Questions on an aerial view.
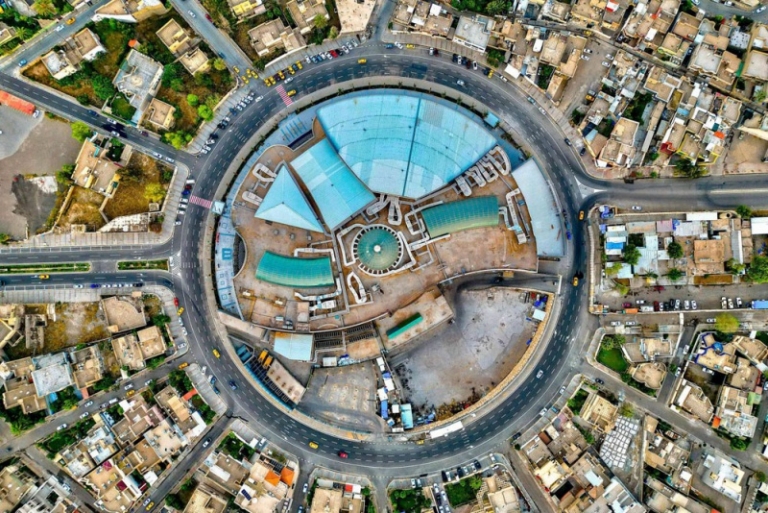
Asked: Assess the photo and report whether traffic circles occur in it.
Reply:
Yes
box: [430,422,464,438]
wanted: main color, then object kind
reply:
white vehicle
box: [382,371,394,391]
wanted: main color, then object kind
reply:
white vehicle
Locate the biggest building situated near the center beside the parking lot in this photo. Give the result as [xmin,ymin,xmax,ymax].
[232,95,563,332]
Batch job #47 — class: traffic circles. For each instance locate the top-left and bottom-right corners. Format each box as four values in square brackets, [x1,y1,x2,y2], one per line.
[166,41,604,479]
